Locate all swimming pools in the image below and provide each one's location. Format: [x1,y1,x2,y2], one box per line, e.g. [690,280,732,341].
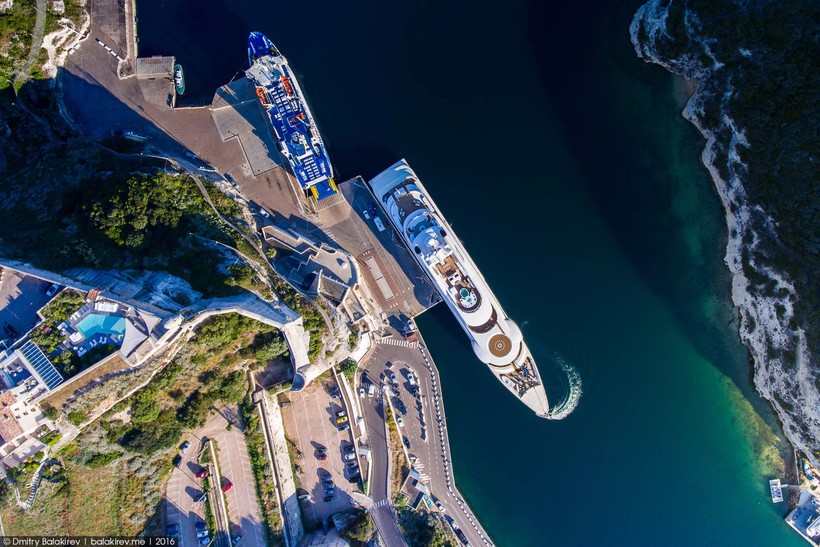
[76,312,126,341]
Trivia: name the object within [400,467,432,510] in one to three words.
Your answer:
building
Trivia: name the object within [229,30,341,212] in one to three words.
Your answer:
ship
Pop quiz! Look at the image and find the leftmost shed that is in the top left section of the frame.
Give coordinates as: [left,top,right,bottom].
[135,54,177,82]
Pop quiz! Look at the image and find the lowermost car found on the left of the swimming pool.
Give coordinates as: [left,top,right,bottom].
[5,324,18,337]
